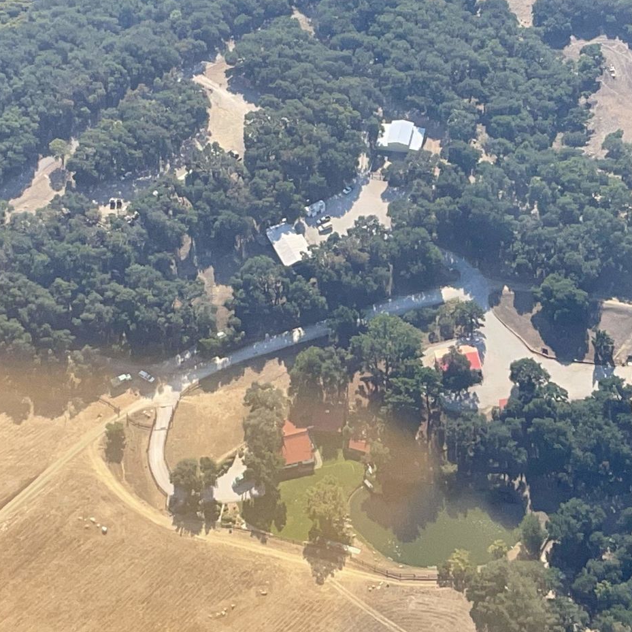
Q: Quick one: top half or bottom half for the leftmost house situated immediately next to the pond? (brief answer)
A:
bottom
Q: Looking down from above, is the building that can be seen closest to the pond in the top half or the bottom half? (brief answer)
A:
bottom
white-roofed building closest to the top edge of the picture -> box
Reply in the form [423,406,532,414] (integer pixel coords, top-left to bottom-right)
[372,114,431,155]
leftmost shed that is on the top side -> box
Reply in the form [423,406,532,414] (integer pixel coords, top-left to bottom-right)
[257,219,317,265]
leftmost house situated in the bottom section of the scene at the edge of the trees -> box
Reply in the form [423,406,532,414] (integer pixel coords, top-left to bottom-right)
[277,403,351,482]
